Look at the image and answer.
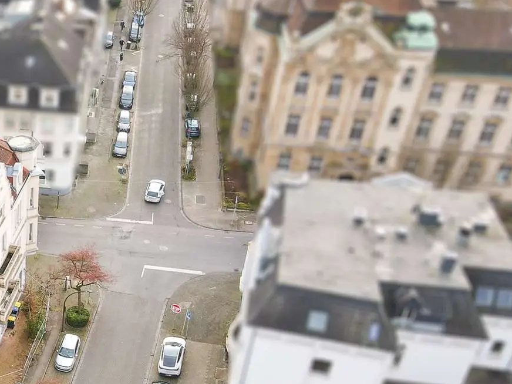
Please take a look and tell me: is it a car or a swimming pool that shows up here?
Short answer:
car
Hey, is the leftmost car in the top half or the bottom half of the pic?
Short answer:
bottom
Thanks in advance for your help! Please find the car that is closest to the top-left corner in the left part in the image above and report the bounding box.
[102,31,116,46]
